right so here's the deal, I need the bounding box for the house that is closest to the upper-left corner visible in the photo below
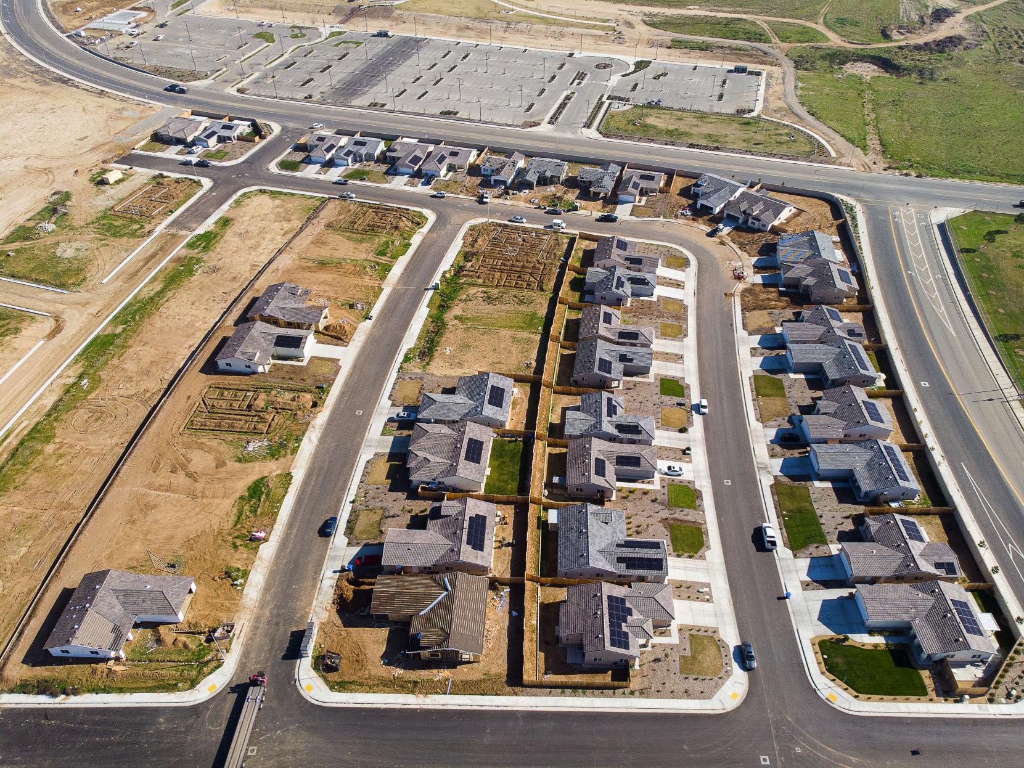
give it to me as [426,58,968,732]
[155,118,203,143]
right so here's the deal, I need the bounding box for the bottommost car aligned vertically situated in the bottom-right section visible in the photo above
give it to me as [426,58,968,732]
[741,640,758,668]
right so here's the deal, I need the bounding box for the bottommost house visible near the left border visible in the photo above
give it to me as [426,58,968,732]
[43,568,195,658]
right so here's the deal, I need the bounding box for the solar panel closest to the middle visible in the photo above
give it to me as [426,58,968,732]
[488,386,507,407]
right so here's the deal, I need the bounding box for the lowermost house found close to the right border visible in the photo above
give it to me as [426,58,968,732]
[854,579,1001,662]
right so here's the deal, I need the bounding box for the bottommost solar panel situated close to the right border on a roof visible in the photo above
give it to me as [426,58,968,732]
[951,599,983,635]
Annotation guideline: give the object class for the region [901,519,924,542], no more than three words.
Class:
solar panel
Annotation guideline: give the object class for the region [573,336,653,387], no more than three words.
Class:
house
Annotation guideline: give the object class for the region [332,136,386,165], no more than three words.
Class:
house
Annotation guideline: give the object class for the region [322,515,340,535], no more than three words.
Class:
car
